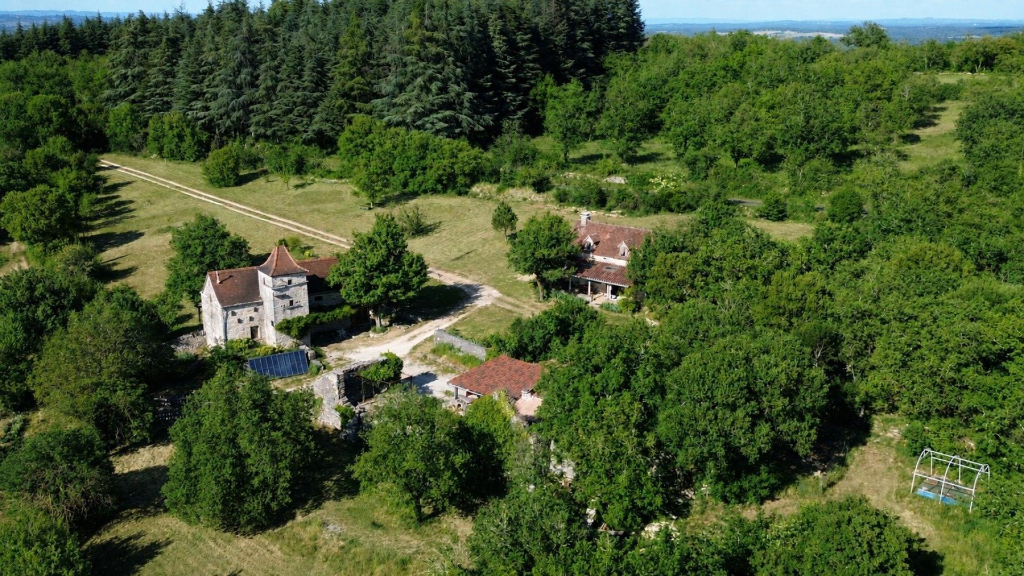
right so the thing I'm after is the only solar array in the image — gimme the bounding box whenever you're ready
[255,347,310,381]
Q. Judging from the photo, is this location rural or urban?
rural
